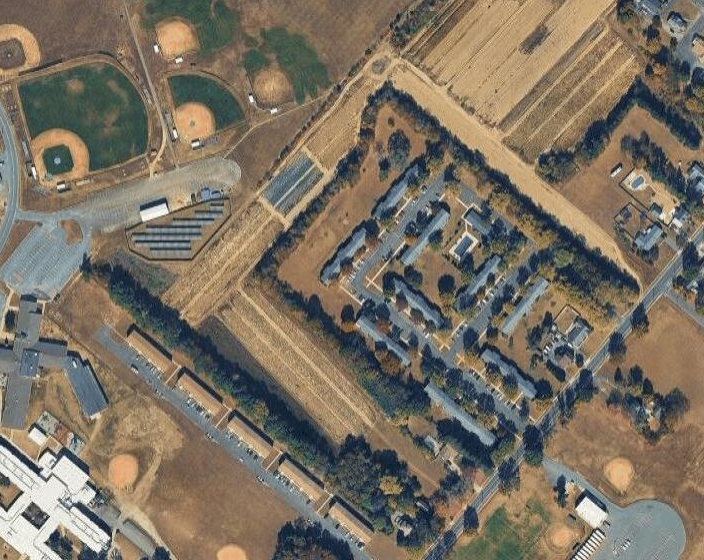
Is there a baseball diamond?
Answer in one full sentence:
Yes, you can see a baseball diamond in this photo.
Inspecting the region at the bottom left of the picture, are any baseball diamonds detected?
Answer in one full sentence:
Yes, looking at the bottom left of the picture, one can make out a baseball diamond.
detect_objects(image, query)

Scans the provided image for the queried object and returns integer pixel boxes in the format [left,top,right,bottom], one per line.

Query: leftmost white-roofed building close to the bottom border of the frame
[0,446,110,560]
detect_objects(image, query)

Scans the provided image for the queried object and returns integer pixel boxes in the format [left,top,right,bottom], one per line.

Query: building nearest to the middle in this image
[316,225,369,284]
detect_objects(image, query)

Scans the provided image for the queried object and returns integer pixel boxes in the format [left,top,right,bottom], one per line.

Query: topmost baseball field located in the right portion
[606,459,633,497]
